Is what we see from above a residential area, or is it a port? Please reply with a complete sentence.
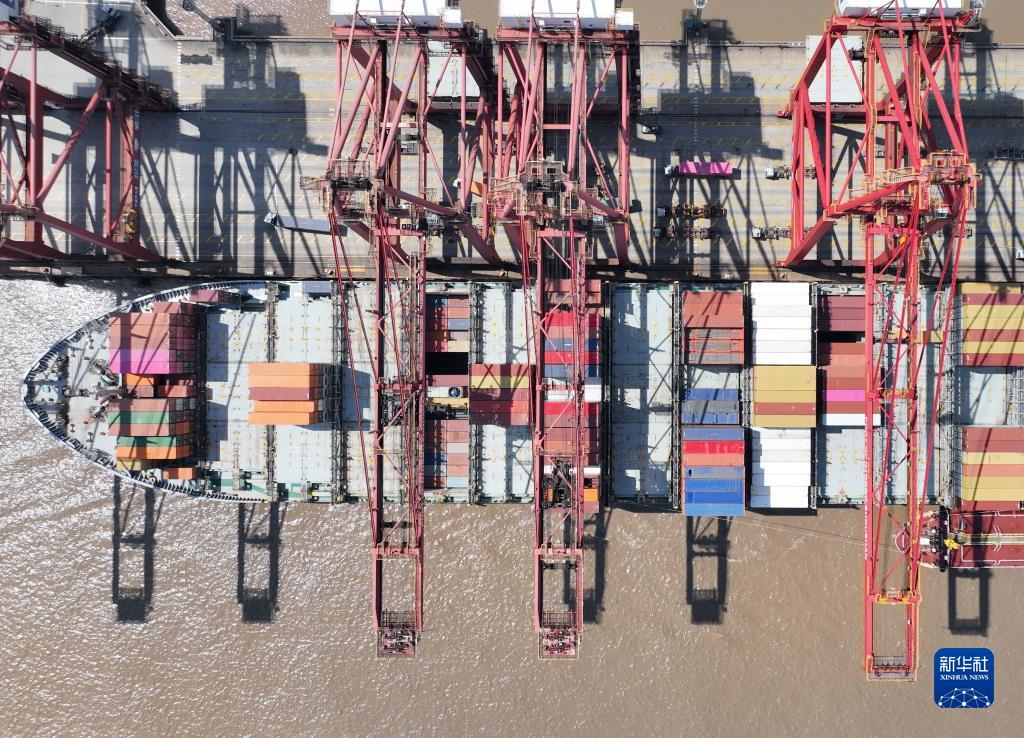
The picture captures a port.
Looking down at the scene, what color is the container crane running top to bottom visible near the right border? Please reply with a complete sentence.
The container crane running top to bottom visible near the right border looks red in the image.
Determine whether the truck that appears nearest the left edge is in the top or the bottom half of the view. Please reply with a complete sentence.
The truck that appears nearest the left edge sits in the top half of the picture.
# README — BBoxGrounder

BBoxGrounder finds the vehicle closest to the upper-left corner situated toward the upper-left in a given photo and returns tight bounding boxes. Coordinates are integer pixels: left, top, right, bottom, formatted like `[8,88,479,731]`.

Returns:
[67,0,122,47]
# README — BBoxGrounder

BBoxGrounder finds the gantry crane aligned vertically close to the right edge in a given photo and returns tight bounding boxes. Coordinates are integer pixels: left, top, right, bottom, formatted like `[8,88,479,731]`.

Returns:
[769,0,980,685]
